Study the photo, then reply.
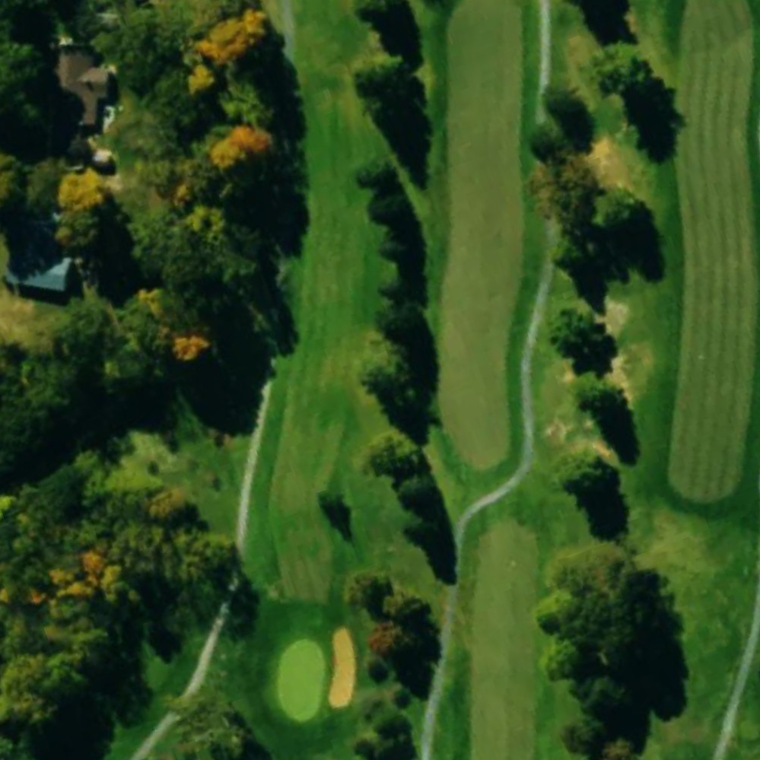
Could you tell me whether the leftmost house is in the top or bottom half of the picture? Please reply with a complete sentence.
The top half of the photo is where the leftmost house is.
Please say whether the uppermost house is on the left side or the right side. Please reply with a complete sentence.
The uppermost house appears in the left half of the scene.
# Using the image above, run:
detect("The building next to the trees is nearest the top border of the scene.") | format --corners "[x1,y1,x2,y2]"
[58,49,113,126]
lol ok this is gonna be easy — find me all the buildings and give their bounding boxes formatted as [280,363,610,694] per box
[6,218,75,295]
[58,49,113,126]
[95,147,112,164]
